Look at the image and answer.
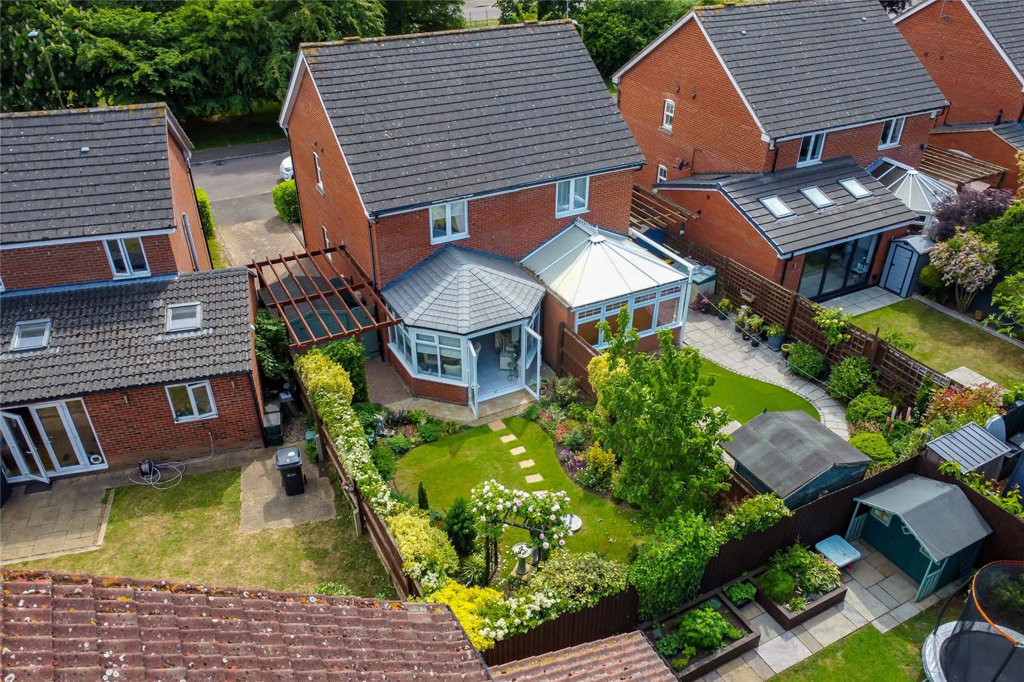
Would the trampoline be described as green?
No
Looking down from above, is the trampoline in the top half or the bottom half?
bottom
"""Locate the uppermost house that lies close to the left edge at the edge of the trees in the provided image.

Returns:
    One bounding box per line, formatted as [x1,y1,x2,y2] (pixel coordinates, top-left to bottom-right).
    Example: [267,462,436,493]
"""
[0,100,264,493]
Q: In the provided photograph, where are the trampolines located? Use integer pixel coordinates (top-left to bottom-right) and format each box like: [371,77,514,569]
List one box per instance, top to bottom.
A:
[917,565,1024,682]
